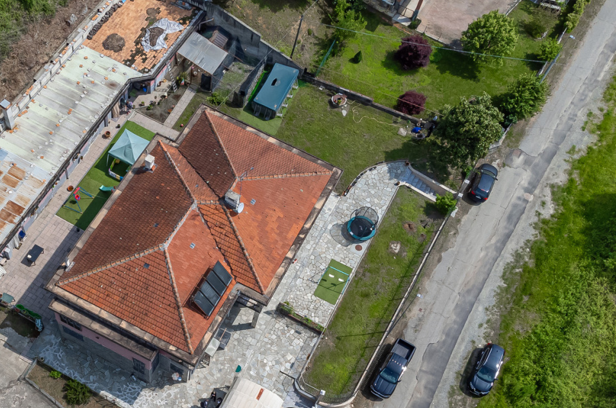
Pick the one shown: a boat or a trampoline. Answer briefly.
trampoline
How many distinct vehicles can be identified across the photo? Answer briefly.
3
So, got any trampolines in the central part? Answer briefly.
Yes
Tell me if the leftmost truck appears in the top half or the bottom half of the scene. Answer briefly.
bottom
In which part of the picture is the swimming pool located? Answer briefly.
top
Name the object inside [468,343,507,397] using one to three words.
car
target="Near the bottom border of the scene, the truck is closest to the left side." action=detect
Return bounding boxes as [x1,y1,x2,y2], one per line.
[370,337,419,402]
